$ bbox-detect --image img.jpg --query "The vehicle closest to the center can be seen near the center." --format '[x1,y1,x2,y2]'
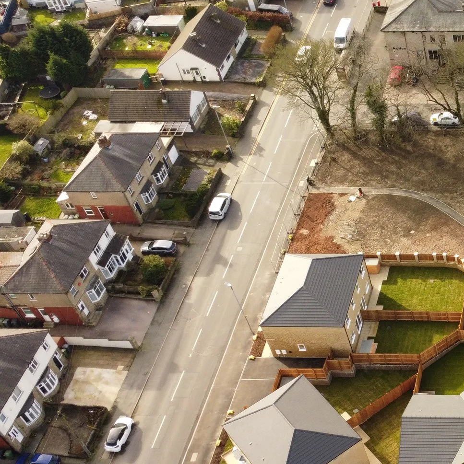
[209,195,233,220]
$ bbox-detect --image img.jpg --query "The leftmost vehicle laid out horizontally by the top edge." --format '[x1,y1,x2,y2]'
[260,1,289,16]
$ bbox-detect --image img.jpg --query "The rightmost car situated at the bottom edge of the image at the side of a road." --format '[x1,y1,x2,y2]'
[102,416,136,455]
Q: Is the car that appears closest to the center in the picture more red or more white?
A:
white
